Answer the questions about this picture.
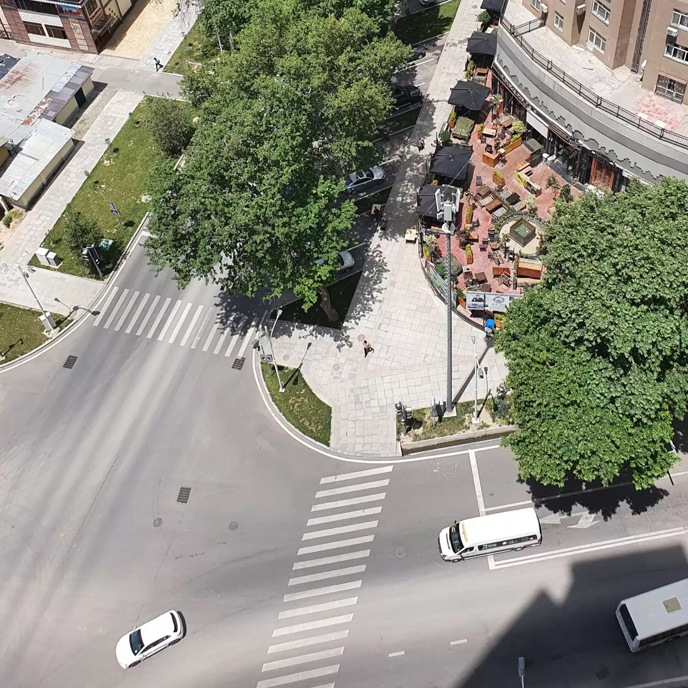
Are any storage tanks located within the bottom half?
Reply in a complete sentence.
No, the scene shows no storage tank within the bottom half.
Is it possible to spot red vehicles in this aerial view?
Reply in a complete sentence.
No, there is no red vehicle in the image.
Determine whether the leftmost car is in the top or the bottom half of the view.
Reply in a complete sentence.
Seen from above, the leftmost car lies in the bottom half of the view.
